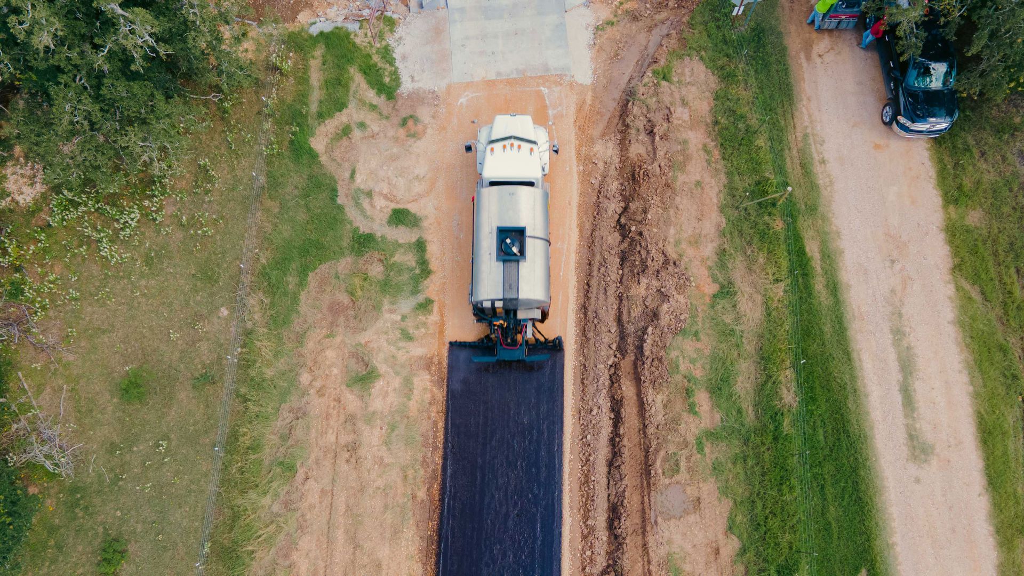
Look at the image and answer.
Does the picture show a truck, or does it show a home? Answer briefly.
truck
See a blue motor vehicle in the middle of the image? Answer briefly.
No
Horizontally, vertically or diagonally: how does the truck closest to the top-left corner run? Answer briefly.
vertically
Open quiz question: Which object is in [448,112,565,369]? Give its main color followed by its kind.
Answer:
white truck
